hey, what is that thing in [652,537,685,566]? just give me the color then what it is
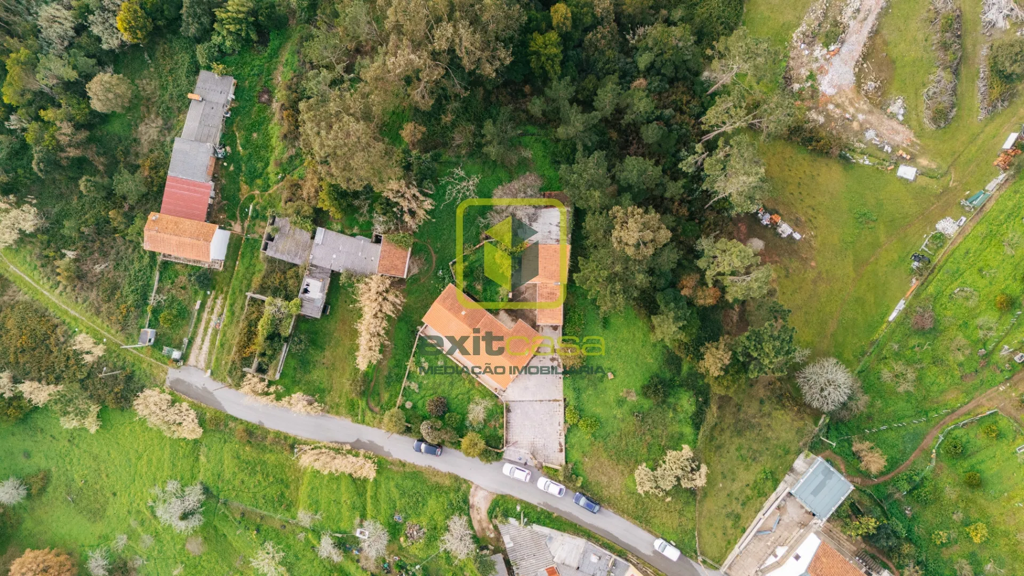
white van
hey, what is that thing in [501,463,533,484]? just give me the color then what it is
white car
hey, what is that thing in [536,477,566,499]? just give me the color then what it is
white car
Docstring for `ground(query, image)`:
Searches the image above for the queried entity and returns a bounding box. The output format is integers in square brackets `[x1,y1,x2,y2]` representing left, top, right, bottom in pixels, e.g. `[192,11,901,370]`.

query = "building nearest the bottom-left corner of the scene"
[139,328,162,345]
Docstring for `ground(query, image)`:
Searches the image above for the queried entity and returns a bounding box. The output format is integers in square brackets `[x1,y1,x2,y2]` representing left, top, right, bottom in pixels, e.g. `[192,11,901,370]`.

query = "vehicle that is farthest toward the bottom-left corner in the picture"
[412,439,443,458]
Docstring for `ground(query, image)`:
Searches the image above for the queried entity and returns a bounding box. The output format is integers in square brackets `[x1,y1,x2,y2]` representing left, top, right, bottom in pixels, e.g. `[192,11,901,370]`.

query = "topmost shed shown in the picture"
[181,70,240,144]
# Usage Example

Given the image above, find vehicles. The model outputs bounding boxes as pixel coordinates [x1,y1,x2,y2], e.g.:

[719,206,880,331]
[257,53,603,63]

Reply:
[412,439,443,458]
[652,537,685,566]
[501,463,533,484]
[536,477,566,499]
[572,492,603,517]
